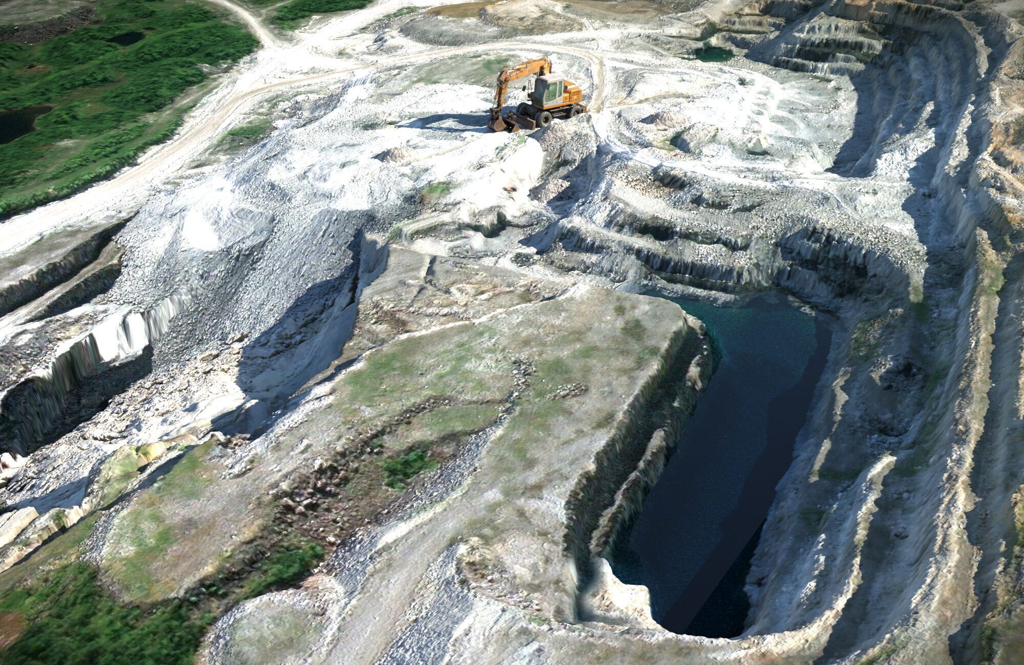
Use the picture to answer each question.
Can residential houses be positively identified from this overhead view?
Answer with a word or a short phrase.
No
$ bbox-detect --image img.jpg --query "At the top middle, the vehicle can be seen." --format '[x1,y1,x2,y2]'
[479,56,591,135]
